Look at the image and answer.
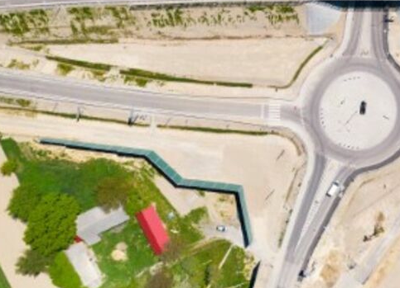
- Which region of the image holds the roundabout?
right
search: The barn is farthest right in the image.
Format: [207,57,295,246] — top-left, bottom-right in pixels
[135,203,172,253]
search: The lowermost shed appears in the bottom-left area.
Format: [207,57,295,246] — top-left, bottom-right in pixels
[63,240,109,284]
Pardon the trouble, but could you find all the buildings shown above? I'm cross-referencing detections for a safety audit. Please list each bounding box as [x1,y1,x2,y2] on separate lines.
[63,240,109,284]
[135,203,172,253]
[76,203,113,243]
